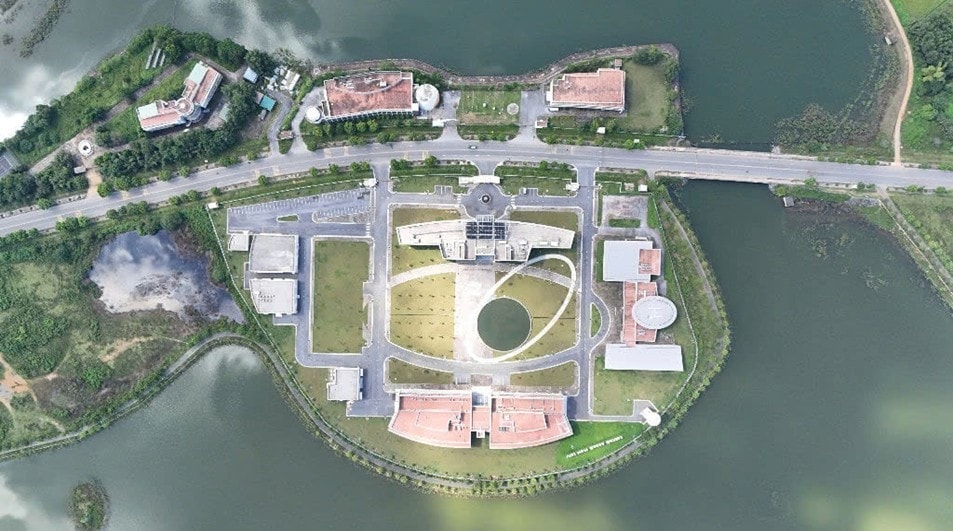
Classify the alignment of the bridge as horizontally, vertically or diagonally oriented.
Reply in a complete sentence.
In this picture, the bridge is oriented horizontally.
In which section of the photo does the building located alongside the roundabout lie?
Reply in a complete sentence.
Look in the center portion of the view to spot the building located alongside the roundabout.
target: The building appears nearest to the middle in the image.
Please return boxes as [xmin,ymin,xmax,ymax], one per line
[396,215,575,261]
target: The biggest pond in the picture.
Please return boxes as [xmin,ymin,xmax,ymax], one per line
[90,228,247,324]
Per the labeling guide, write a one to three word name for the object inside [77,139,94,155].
fountain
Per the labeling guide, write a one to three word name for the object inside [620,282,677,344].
building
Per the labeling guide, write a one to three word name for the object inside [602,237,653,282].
building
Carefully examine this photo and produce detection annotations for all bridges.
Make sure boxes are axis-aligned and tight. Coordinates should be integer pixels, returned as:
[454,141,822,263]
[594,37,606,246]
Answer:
[690,146,772,184]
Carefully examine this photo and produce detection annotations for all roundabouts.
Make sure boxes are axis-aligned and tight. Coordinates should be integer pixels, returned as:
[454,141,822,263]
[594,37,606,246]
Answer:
[467,182,504,216]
